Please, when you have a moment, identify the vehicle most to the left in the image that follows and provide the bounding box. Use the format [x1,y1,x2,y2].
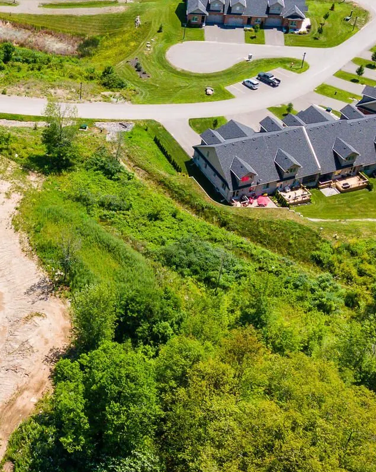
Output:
[243,74,262,87]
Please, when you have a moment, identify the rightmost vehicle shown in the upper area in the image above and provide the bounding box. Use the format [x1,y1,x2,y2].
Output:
[258,69,281,83]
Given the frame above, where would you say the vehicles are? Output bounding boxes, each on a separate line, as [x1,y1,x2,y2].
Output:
[243,74,262,87]
[258,69,281,83]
